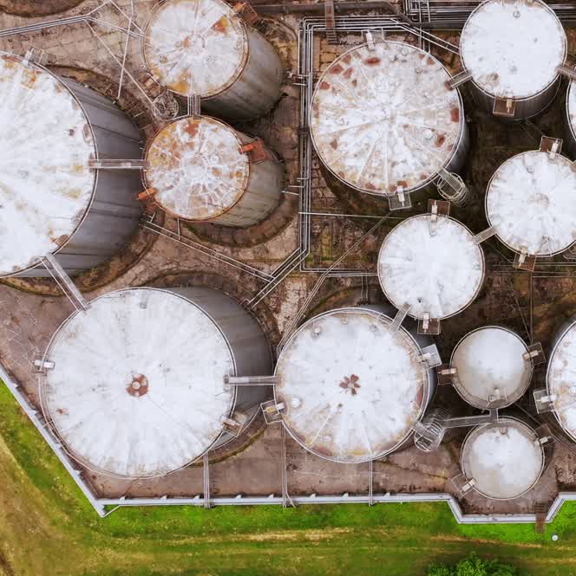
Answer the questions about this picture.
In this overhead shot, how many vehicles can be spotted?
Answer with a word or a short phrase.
0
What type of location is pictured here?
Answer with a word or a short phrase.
industrial area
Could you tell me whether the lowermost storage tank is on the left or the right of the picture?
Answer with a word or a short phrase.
right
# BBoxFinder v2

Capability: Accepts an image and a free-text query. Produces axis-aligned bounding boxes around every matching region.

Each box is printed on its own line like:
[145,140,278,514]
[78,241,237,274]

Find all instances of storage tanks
[15,284,273,483]
[447,401,560,506]
[458,0,567,122]
[376,194,488,340]
[431,319,550,411]
[306,18,471,213]
[485,130,576,275]
[131,0,285,120]
[0,36,146,277]
[529,310,576,445]
[253,303,443,466]
[125,113,286,227]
